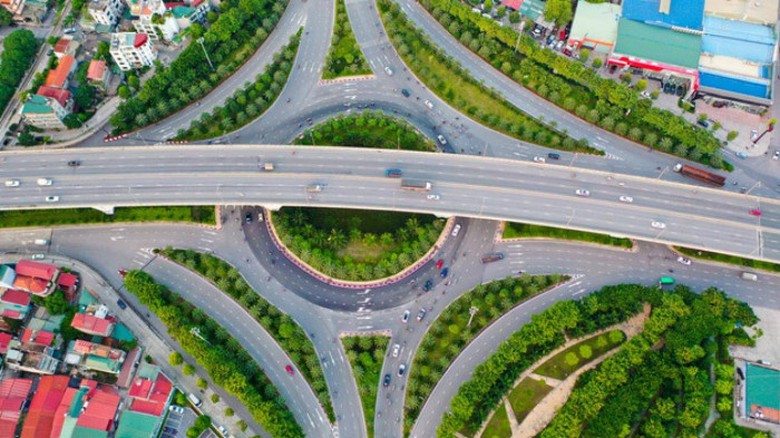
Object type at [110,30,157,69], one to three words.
building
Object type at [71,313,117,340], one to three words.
house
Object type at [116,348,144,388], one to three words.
shed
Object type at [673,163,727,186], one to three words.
truck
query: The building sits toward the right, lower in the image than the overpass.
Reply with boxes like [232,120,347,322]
[743,363,780,427]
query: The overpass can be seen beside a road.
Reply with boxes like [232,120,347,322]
[0,145,780,263]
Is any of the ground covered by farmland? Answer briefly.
No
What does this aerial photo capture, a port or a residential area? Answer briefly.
residential area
